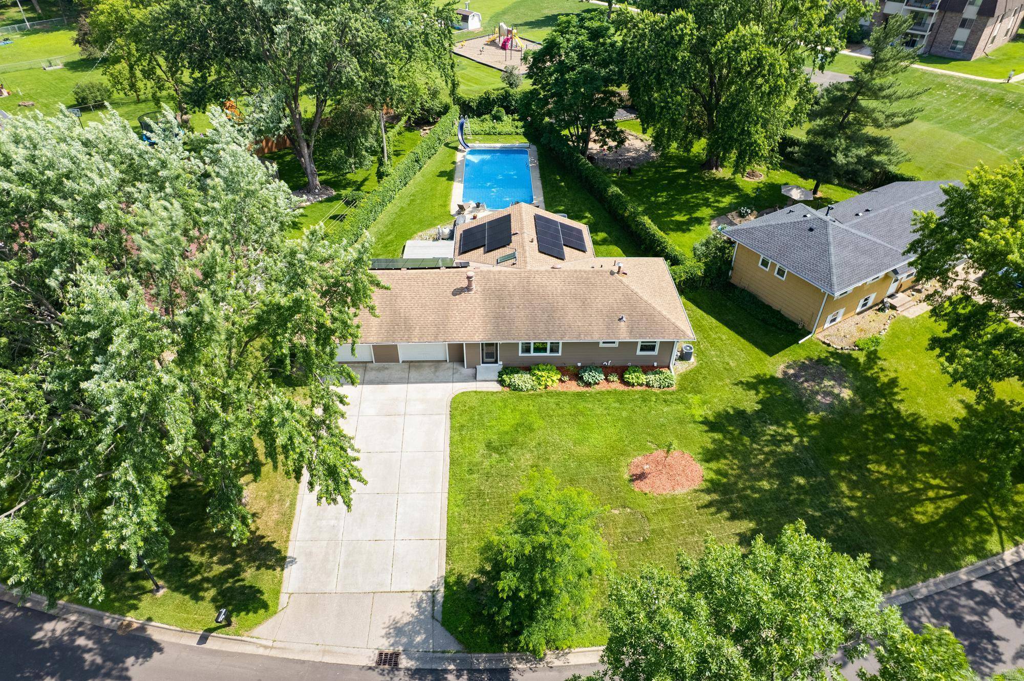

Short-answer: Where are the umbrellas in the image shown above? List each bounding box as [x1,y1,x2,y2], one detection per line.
[779,184,812,206]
